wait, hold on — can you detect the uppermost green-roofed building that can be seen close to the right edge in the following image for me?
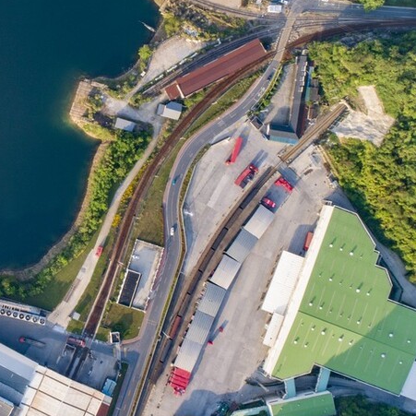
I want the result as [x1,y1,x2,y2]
[265,204,416,397]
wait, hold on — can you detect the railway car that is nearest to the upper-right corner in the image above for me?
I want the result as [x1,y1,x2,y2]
[254,172,274,194]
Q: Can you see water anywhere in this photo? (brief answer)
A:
Yes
